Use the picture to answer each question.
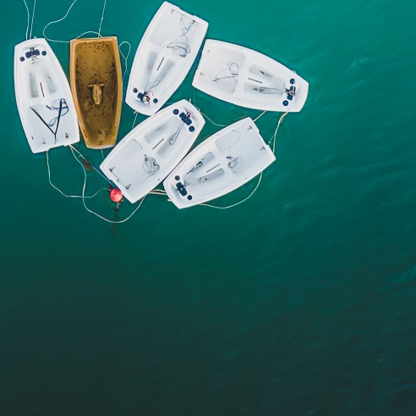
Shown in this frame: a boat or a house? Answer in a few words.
boat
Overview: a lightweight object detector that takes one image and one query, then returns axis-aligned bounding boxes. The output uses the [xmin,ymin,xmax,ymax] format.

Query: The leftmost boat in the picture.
[14,39,79,151]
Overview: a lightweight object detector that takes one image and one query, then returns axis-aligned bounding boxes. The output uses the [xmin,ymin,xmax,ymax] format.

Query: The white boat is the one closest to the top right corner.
[192,39,307,113]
